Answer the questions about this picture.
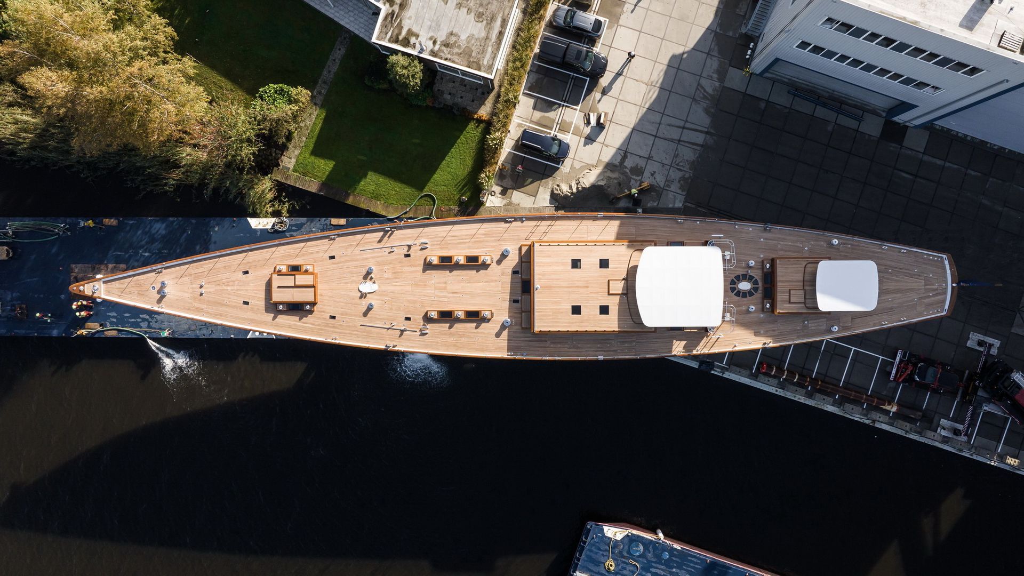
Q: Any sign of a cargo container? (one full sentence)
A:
No, there's no cargo container here.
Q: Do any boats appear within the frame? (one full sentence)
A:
Yes, you can see a boat in this photo.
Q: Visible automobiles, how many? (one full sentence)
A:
The picture shows 3 automobiles.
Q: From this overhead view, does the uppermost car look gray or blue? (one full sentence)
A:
The uppermost car is gray.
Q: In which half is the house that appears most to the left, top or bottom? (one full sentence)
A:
The house that appears most to the left sits in the top half of the picture.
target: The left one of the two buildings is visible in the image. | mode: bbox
[369,0,528,91]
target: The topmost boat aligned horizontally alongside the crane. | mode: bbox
[70,213,1001,360]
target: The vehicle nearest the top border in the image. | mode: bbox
[550,3,607,38]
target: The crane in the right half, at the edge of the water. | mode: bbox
[900,342,1024,439]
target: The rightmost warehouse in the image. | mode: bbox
[749,0,1024,153]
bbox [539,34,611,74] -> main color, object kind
black car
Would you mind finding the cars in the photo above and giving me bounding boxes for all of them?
[550,3,607,38]
[539,34,611,74]
[517,127,573,161]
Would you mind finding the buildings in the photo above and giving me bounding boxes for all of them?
[369,0,528,91]
[749,0,1024,153]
